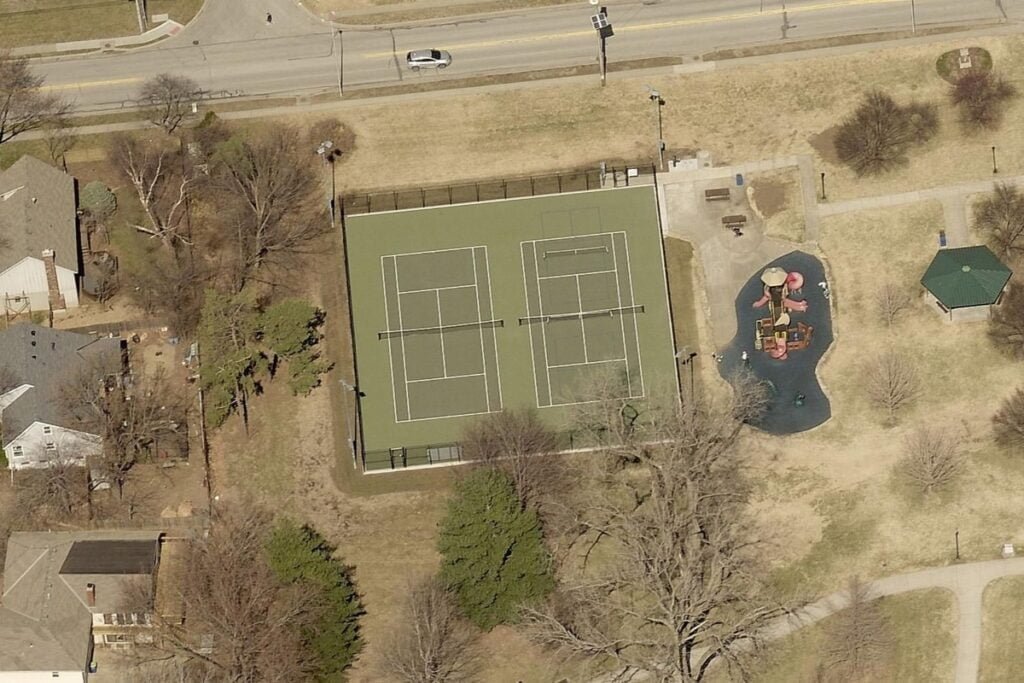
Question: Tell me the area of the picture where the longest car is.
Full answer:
You can find the longest car in the top area of the picture.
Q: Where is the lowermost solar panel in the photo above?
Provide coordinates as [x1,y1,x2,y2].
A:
[62,541,159,572]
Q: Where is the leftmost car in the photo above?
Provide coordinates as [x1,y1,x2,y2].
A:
[407,49,451,72]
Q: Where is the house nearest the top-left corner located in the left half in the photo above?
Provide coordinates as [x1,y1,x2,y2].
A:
[0,155,77,310]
